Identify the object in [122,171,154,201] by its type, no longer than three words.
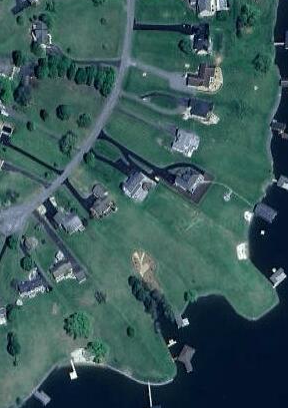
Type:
house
